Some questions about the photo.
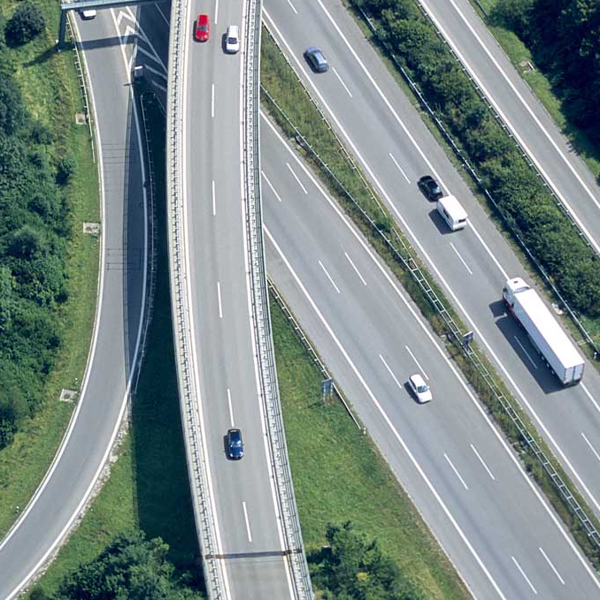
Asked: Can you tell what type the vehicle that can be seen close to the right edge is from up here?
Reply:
truck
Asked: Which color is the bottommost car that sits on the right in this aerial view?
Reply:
white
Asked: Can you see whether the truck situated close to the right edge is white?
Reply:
Yes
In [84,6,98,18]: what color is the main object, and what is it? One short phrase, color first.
white vehicle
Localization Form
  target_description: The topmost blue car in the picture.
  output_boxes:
[306,49,328,73]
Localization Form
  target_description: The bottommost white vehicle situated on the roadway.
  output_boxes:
[407,375,431,402]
